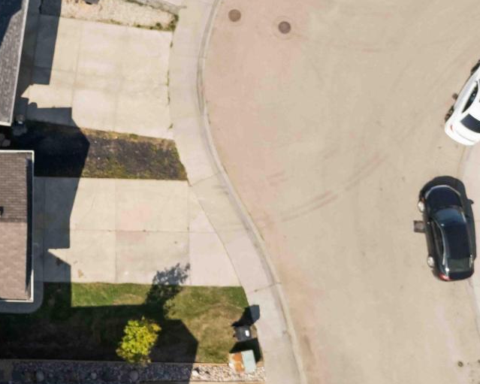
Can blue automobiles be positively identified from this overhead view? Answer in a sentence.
No, no blue automobile is visible in the view.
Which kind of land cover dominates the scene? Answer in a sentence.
For the most part, this view shows paved ground.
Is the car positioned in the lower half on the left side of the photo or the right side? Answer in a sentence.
The car positioned in the lower half appears in the right half of the scene.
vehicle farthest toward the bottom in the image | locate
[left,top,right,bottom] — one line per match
[418,186,473,282]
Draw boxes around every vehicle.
[418,186,473,282]
[441,61,480,146]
